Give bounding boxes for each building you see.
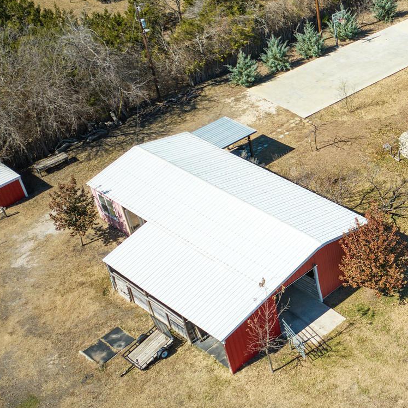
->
[86,130,371,373]
[0,158,27,206]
